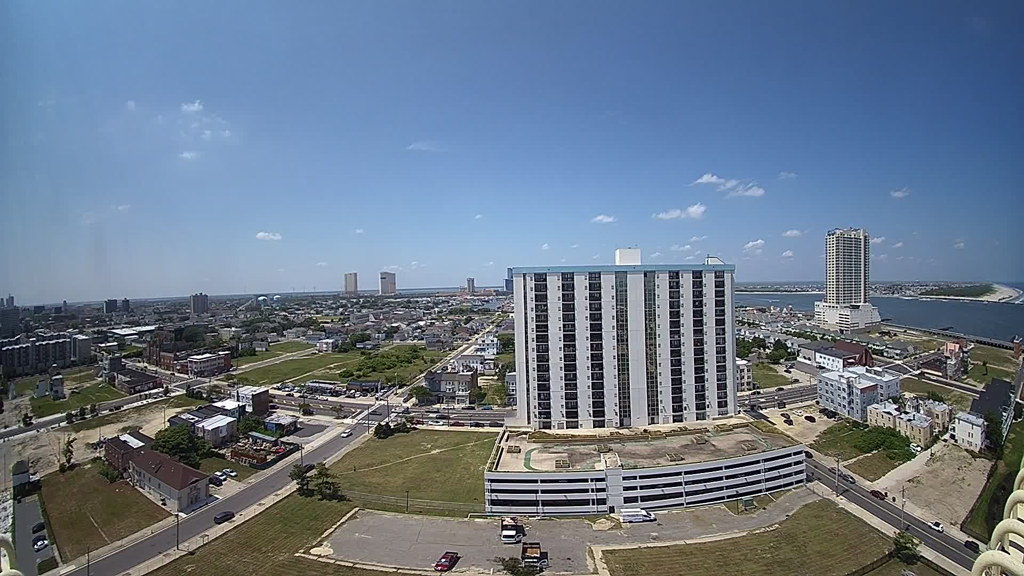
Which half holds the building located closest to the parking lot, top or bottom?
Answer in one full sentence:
Seen from above, the building located closest to the parking lot lies in the bottom half of the view.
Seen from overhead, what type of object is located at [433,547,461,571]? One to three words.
truck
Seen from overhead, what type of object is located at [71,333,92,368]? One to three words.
building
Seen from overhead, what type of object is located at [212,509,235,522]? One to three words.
vehicle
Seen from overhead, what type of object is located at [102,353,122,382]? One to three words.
house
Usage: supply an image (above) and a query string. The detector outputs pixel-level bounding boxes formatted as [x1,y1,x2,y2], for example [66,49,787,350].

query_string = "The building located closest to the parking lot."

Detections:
[484,416,805,516]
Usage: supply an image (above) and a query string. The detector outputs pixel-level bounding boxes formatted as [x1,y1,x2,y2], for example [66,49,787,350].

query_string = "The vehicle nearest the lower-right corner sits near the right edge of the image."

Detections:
[959,535,985,550]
